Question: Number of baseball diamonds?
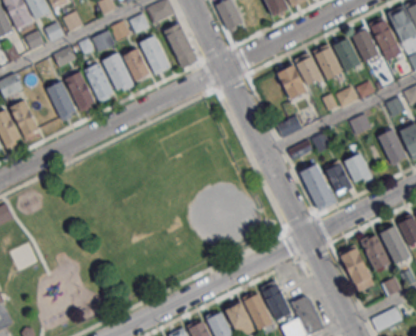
1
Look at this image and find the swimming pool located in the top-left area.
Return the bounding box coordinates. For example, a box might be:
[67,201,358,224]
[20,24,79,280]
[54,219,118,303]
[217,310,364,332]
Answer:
[23,73,38,88]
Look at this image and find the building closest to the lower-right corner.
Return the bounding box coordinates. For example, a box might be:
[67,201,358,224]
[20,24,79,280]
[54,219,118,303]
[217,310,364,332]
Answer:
[371,306,402,332]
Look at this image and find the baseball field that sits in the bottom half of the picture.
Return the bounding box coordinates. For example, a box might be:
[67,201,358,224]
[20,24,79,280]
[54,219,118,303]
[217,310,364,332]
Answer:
[186,180,263,250]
